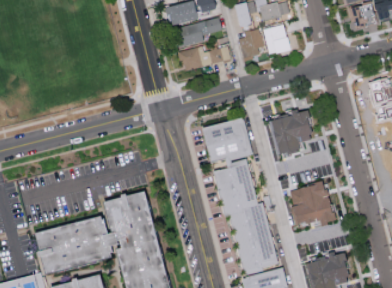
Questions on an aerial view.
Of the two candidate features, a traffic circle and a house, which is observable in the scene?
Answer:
house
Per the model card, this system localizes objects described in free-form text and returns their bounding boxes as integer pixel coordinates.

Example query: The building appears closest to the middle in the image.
[202,118,252,164]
